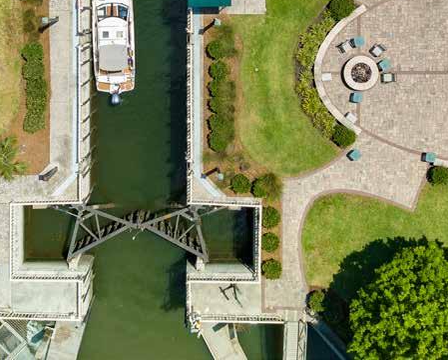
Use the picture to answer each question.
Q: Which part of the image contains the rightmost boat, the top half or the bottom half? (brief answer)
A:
top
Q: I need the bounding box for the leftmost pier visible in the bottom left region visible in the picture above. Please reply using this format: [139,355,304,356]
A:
[45,320,84,360]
